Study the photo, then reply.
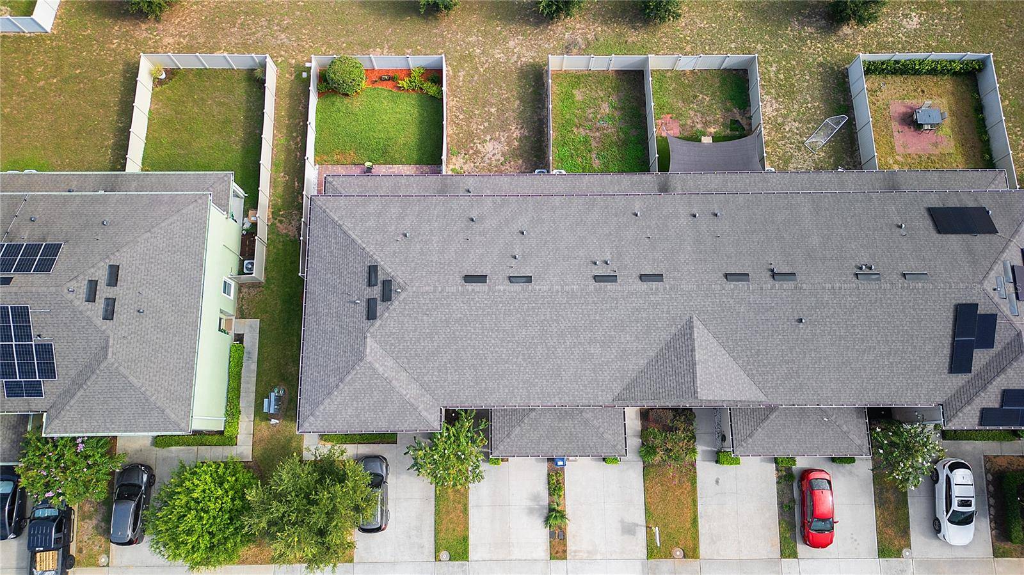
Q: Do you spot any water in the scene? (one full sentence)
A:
No, no water is visible.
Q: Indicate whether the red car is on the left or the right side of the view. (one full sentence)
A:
It is on the right.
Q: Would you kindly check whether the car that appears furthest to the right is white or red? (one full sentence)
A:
The car that appears furthest to the right is white.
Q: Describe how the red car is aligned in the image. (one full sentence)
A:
The red car runs from top to bottom in the image.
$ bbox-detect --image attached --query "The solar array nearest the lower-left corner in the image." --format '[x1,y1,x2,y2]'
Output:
[0,306,59,399]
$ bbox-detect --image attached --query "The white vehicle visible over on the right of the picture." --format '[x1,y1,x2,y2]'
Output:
[928,459,976,544]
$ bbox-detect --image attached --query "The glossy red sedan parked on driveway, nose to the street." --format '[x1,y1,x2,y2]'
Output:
[796,471,839,547]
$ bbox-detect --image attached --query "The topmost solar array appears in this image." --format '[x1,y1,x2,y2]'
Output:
[935,206,991,233]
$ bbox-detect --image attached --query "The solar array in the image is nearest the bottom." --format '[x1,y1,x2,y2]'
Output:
[979,390,1024,427]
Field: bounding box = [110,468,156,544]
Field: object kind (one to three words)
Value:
car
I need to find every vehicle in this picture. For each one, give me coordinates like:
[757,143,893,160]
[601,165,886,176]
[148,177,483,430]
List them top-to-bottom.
[354,457,390,531]
[928,459,976,544]
[0,467,28,542]
[110,468,156,544]
[796,471,839,547]
[25,482,79,575]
